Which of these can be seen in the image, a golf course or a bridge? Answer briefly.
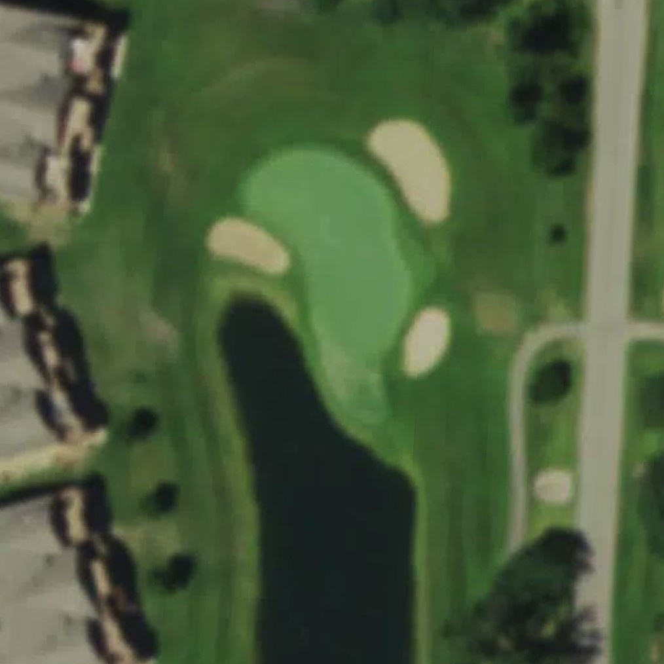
golf course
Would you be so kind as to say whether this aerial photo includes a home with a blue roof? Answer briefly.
No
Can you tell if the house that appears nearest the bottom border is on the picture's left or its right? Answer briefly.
left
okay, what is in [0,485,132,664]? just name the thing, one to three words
house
